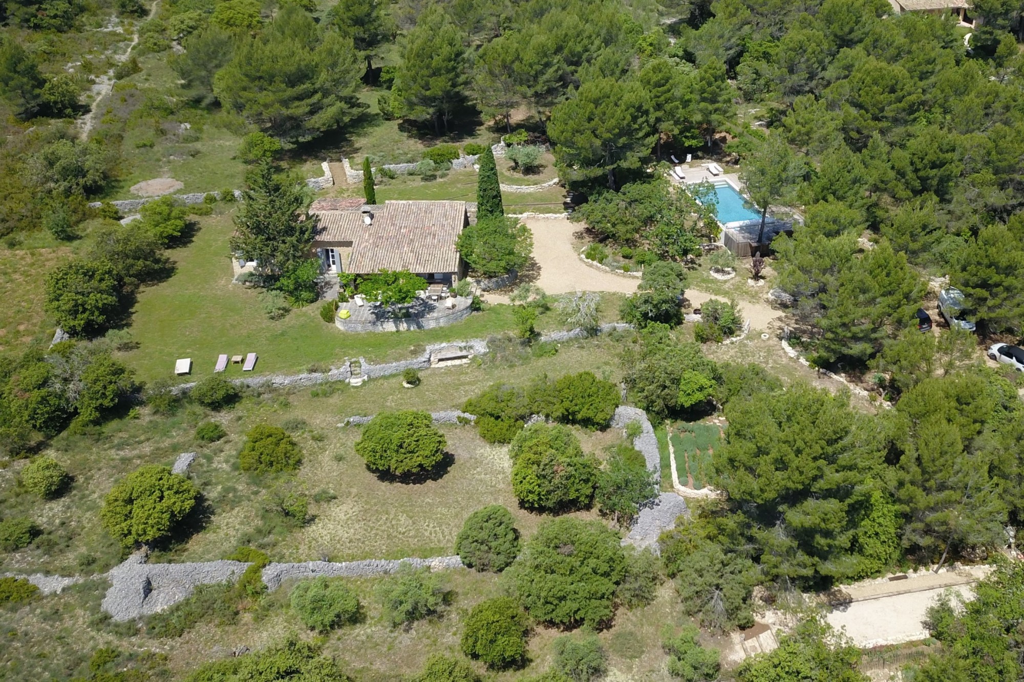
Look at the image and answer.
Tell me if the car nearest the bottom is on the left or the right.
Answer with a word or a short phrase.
right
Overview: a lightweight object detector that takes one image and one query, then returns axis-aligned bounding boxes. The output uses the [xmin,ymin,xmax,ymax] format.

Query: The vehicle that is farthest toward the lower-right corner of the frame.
[986,341,1024,368]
